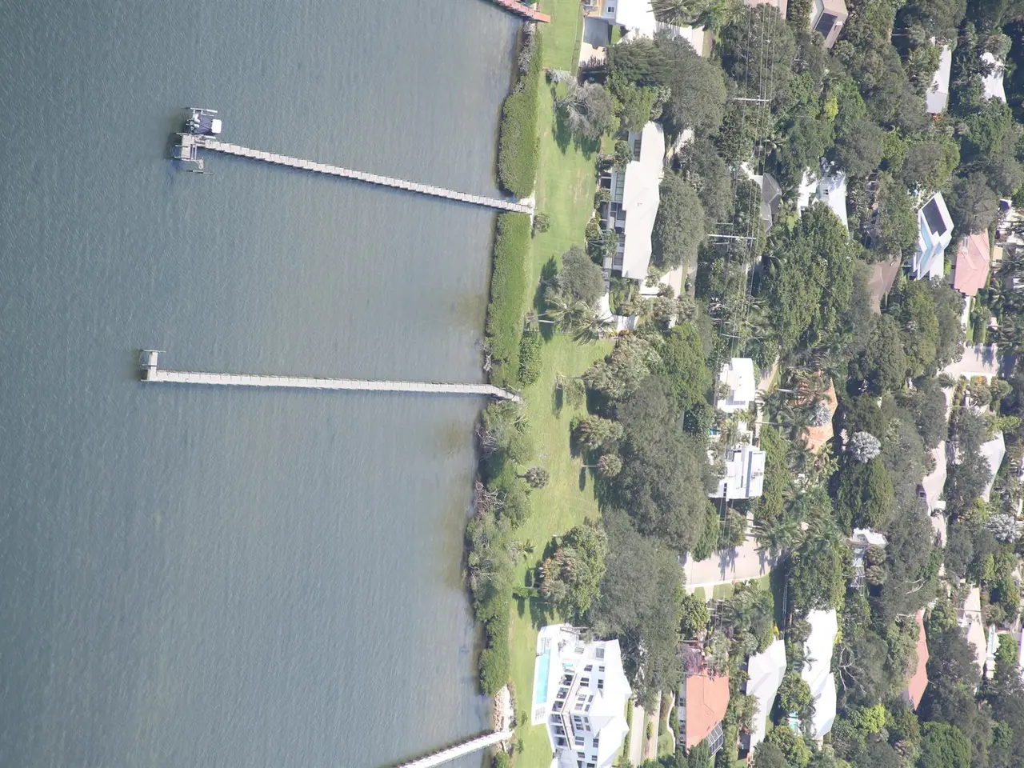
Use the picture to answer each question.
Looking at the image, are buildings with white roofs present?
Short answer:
Yes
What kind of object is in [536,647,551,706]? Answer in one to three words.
swimming pool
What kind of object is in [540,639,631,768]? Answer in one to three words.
house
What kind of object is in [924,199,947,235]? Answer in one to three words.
solar panel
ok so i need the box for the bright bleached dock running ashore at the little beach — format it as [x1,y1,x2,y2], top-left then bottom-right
[385,727,510,768]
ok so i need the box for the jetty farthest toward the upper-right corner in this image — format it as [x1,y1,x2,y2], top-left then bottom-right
[482,0,550,25]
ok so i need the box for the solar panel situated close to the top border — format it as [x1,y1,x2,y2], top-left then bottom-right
[817,11,837,36]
